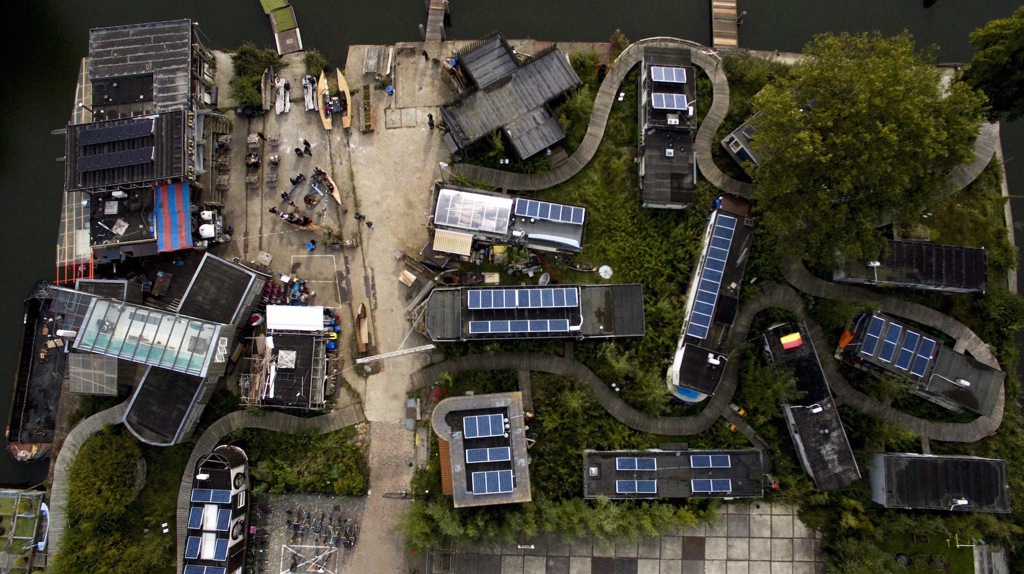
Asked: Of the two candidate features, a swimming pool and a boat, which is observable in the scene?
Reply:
boat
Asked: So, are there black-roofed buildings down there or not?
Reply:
Yes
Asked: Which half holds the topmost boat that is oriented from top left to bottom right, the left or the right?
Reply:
left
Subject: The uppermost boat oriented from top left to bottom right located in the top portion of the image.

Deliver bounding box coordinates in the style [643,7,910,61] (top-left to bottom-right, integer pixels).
[318,169,341,204]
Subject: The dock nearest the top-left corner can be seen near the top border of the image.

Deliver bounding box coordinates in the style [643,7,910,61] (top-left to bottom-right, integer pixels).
[261,0,303,55]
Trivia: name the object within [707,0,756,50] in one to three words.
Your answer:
pier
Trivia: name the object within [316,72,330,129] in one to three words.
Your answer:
boat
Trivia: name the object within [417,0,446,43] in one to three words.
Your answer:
pier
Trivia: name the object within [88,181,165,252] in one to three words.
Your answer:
building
